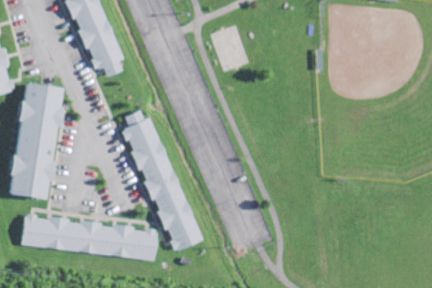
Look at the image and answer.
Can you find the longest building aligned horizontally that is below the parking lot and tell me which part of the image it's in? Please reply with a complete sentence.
The longest building aligned horizontally that is below the parking lot is in the bottom left part of the image.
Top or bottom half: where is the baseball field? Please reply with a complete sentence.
You can find the baseball field in the top half.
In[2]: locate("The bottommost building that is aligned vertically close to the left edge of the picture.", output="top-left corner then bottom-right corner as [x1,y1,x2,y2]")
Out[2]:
[10,82,62,200]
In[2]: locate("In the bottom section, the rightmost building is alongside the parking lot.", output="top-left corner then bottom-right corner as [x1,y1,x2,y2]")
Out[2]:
[123,117,203,252]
